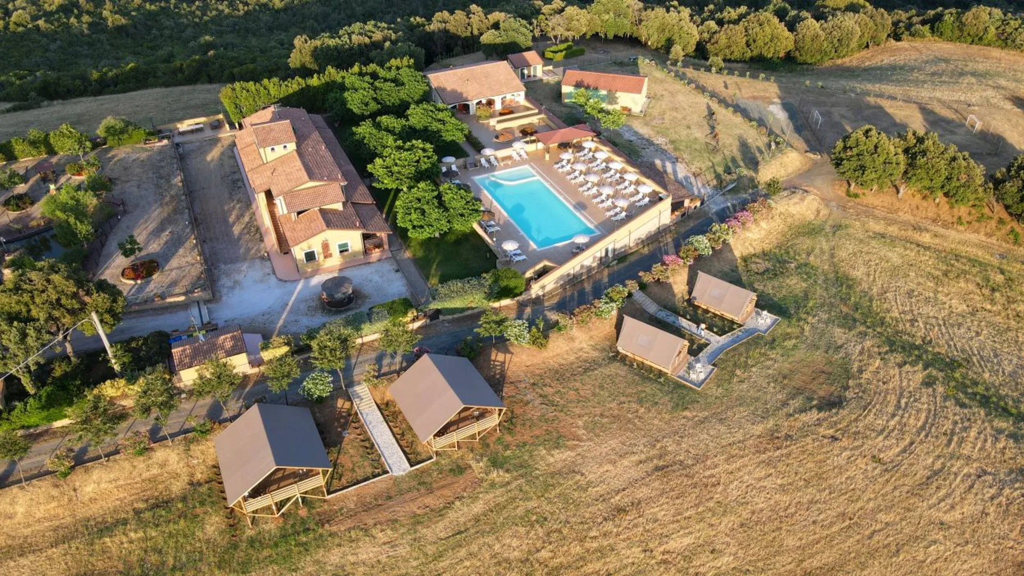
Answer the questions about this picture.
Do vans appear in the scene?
No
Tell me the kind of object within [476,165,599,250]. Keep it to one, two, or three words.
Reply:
swimming pool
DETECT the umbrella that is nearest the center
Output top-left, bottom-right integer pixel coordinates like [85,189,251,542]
[502,242,519,264]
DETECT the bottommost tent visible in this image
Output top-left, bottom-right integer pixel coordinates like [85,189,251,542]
[212,406,332,527]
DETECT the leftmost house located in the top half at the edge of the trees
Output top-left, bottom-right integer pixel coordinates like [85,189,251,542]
[237,100,392,272]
